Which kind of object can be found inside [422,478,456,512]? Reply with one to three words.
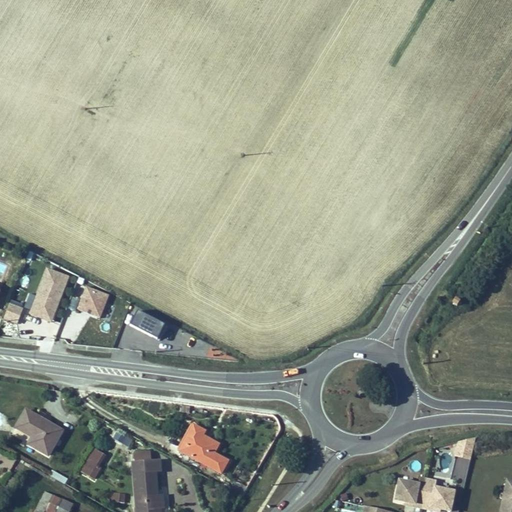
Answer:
house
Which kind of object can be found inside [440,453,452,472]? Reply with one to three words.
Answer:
swimming pool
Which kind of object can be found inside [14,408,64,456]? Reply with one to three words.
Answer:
house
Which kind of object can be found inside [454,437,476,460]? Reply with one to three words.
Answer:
building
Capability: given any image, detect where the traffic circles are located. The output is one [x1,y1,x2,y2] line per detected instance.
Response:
[302,340,416,454]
